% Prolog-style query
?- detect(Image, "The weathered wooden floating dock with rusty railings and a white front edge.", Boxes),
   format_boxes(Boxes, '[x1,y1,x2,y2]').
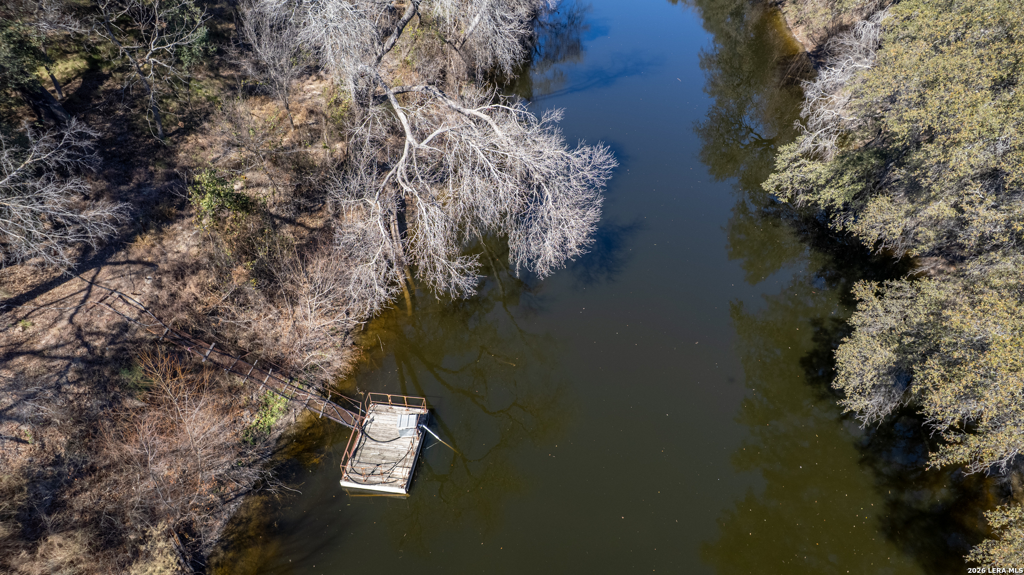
[336,394,430,496]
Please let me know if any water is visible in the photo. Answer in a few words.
Yes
